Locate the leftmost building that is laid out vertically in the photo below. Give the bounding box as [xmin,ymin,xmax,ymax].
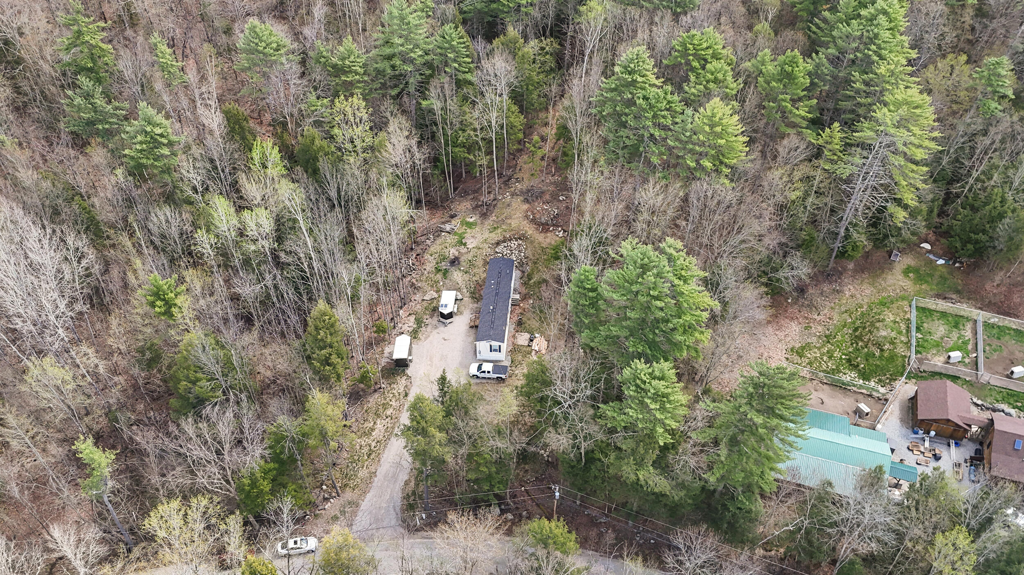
[475,255,515,361]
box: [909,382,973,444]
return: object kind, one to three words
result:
barn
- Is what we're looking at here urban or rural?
rural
